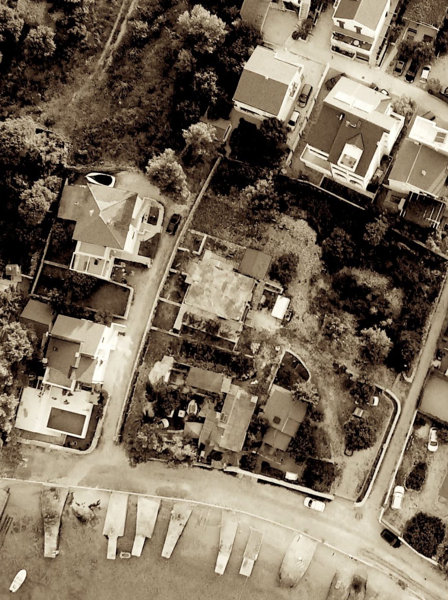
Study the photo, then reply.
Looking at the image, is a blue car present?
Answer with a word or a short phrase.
No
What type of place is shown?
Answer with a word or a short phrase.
residential area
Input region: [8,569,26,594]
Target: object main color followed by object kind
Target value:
white boat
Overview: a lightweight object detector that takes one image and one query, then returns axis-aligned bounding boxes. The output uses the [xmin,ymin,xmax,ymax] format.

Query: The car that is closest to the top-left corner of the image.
[166,212,183,238]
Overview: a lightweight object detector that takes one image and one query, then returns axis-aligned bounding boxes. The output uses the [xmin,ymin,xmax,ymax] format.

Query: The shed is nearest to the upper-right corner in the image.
[403,0,448,33]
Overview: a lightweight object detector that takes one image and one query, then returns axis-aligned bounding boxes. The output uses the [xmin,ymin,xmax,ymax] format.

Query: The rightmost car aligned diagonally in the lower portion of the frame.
[378,526,405,551]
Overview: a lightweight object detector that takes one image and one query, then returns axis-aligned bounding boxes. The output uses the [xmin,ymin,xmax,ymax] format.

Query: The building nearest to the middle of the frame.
[173,251,264,341]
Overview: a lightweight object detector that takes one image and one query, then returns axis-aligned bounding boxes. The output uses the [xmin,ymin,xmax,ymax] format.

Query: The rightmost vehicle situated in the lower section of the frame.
[427,426,440,453]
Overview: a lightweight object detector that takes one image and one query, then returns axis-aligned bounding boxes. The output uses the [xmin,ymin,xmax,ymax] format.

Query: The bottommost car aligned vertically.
[392,484,406,512]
